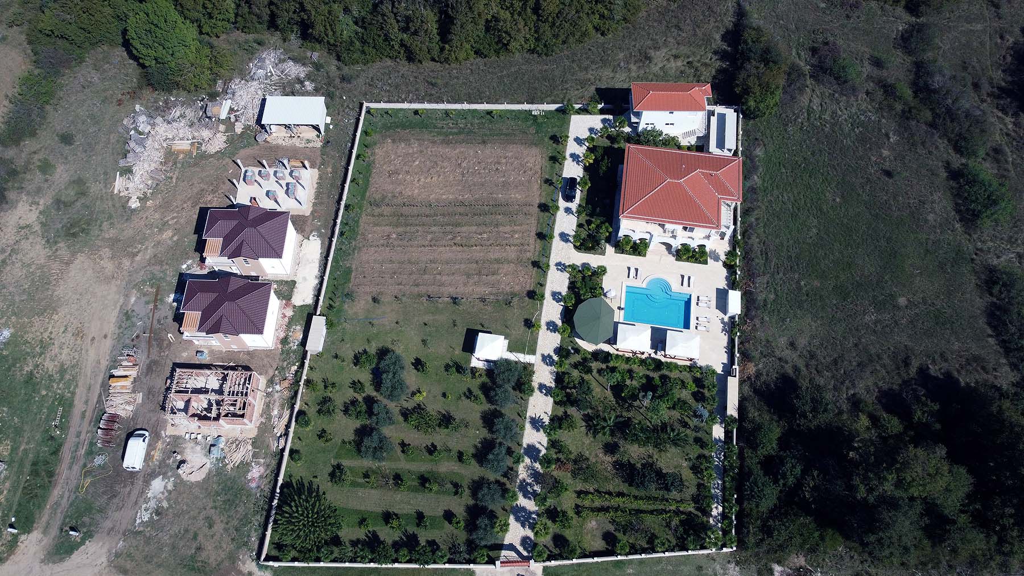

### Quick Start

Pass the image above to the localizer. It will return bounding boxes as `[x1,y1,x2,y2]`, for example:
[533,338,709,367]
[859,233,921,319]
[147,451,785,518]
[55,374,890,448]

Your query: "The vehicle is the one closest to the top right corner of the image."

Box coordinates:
[565,177,578,203]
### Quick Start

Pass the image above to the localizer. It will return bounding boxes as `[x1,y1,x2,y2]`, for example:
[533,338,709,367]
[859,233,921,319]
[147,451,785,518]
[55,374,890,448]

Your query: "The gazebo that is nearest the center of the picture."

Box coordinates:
[471,331,512,370]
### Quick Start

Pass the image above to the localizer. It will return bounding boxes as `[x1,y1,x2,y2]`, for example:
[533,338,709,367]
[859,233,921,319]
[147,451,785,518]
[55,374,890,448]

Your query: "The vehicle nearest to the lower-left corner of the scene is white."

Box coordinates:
[116,425,148,471]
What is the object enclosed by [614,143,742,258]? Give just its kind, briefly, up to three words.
house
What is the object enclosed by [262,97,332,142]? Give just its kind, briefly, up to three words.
shed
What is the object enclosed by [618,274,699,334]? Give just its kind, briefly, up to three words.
swimming pool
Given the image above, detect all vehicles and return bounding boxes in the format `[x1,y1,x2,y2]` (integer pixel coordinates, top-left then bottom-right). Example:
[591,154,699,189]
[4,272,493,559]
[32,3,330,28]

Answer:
[116,425,148,471]
[565,177,578,203]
